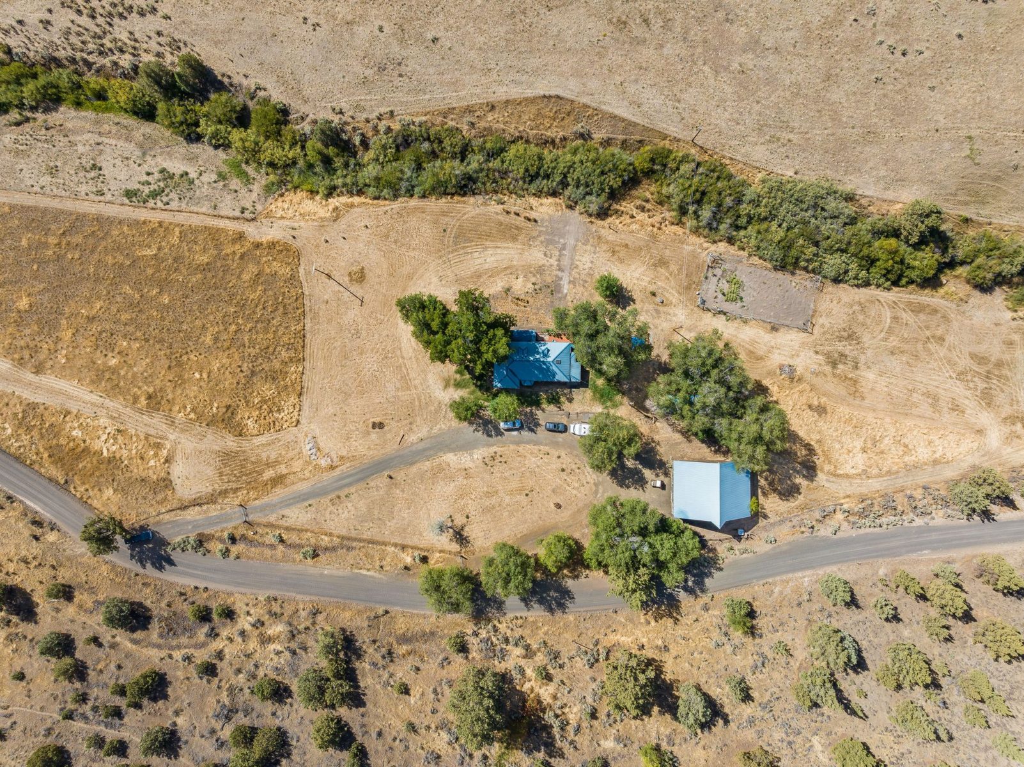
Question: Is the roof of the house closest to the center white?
No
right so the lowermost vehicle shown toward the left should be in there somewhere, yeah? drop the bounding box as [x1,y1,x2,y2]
[126,531,152,545]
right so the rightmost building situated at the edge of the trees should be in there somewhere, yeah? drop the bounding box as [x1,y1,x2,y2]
[671,460,751,530]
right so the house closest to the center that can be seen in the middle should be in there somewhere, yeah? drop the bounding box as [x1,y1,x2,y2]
[493,330,581,389]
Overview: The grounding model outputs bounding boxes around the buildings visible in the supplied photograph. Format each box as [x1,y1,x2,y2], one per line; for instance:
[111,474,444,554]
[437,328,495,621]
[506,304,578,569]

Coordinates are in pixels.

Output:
[671,460,751,530]
[493,330,581,389]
